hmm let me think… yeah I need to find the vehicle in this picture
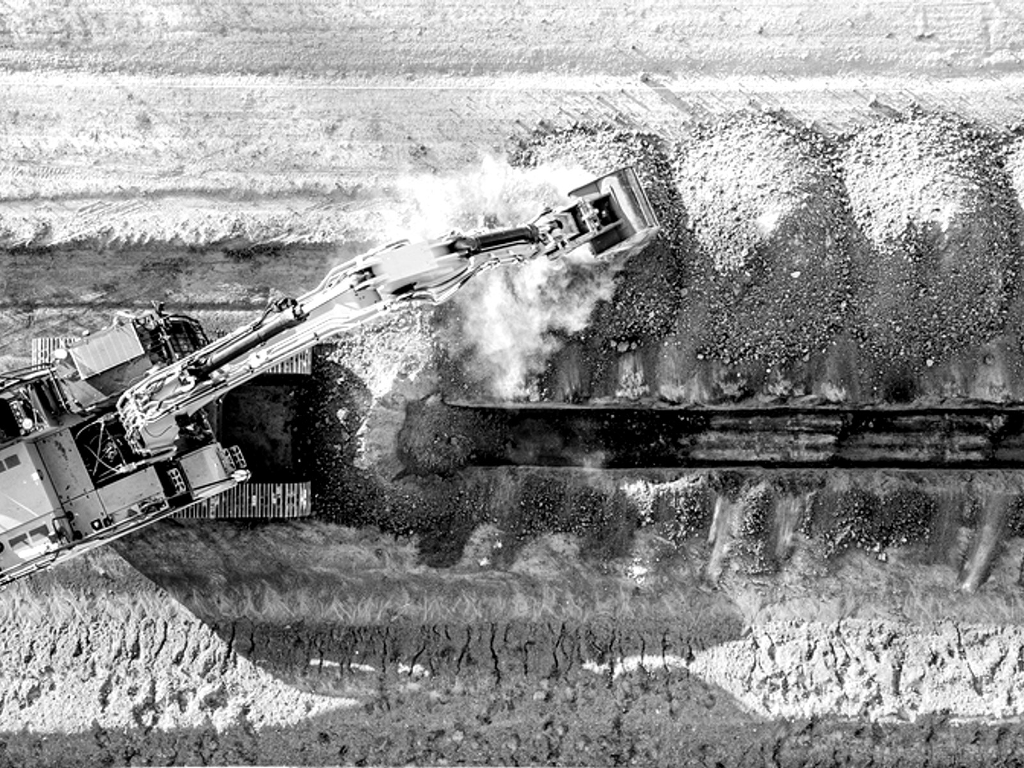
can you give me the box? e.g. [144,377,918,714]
[0,162,665,590]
